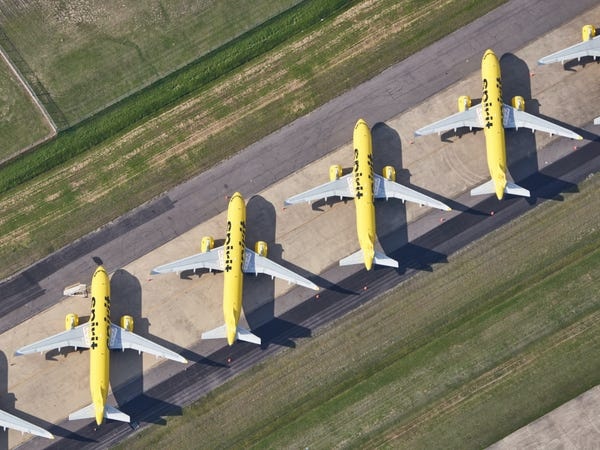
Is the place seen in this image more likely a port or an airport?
airport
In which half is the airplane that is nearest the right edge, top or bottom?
top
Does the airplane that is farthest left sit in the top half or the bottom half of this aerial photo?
bottom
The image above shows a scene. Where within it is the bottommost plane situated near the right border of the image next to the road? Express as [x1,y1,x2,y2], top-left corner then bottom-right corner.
[414,50,582,202]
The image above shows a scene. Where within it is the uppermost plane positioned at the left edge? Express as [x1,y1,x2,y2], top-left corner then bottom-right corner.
[15,267,188,425]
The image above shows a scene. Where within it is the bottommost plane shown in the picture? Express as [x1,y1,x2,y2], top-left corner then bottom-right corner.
[0,414,53,441]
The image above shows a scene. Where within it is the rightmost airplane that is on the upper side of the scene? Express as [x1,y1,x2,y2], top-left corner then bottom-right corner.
[537,28,600,67]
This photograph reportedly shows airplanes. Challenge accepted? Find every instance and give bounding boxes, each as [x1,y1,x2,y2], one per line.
[537,28,600,67]
[414,50,582,202]
[149,192,320,347]
[15,267,188,425]
[282,119,452,273]
[0,414,53,441]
